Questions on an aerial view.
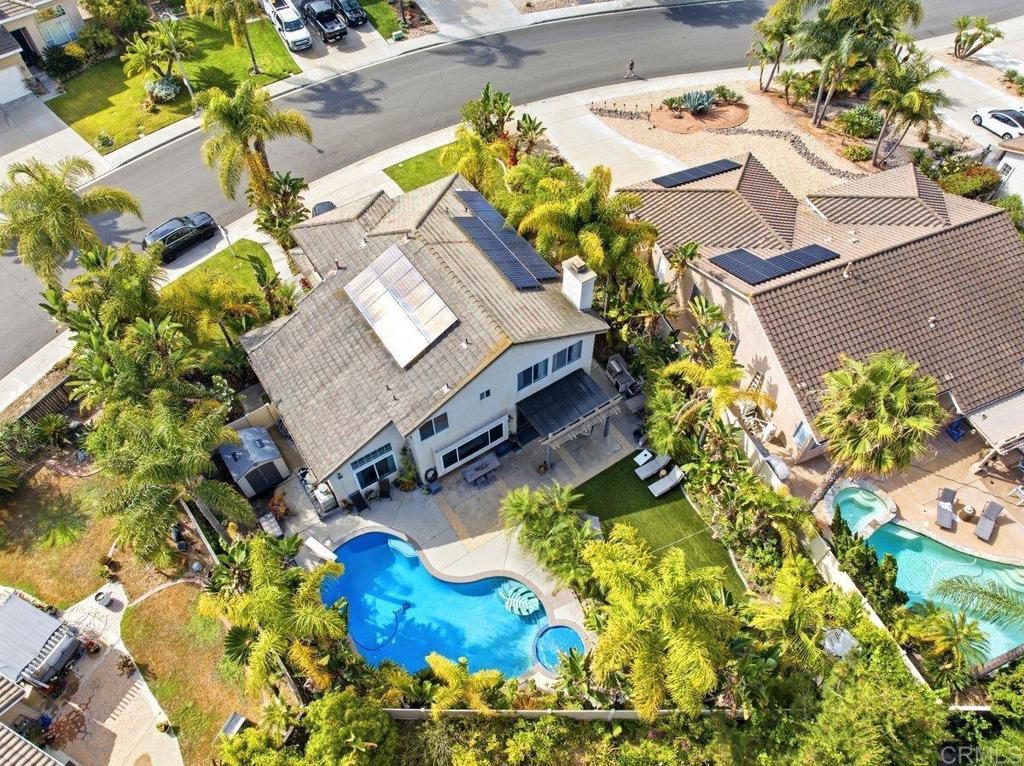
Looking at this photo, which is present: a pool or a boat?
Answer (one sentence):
The one in the frame is a pool.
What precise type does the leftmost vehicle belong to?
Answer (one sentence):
The leftmost vehicle in the image is an automobile.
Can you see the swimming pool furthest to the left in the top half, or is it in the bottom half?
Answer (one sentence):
You can find the swimming pool furthest to the left in the bottom half.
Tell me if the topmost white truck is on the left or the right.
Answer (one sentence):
It is on the left.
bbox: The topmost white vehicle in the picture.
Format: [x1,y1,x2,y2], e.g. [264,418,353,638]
[267,3,311,50]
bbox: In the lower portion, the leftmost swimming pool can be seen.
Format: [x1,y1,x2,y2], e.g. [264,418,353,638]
[316,527,552,687]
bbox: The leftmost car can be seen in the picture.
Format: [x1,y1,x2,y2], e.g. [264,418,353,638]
[140,210,218,264]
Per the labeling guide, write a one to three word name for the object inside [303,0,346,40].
truck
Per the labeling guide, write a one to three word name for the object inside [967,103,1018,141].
car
